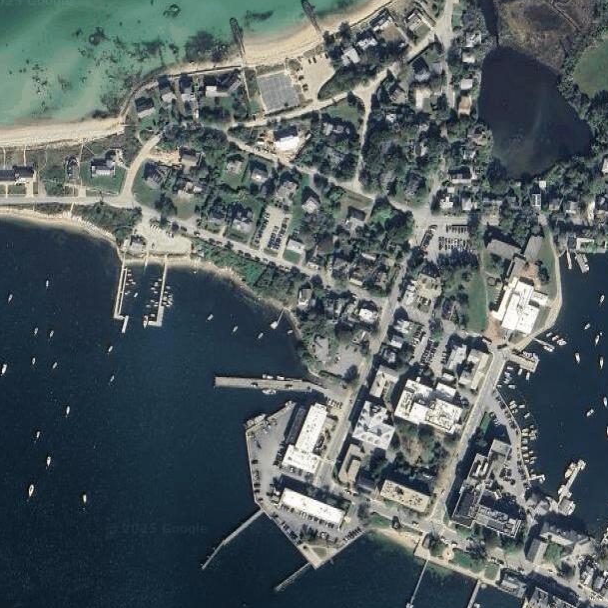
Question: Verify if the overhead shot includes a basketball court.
No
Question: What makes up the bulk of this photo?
water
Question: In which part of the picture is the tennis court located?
top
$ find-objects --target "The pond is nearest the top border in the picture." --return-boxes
[478,0,592,180]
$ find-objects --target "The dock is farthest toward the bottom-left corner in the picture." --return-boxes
[201,510,263,570]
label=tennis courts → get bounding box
[257,72,299,113]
